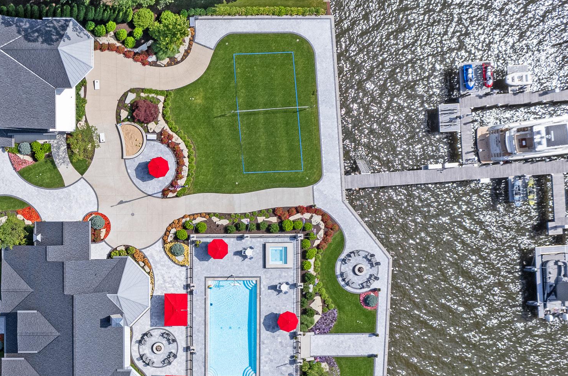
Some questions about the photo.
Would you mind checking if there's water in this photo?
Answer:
Yes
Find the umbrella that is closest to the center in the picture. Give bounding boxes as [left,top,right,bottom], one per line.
[207,239,227,258]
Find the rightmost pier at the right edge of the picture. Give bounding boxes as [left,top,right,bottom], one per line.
[545,173,568,235]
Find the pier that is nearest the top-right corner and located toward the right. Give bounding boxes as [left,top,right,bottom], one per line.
[502,65,530,94]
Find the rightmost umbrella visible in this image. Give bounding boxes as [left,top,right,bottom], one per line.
[276,310,298,333]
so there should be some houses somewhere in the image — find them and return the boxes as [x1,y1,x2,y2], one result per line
[0,221,150,376]
[0,16,94,149]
